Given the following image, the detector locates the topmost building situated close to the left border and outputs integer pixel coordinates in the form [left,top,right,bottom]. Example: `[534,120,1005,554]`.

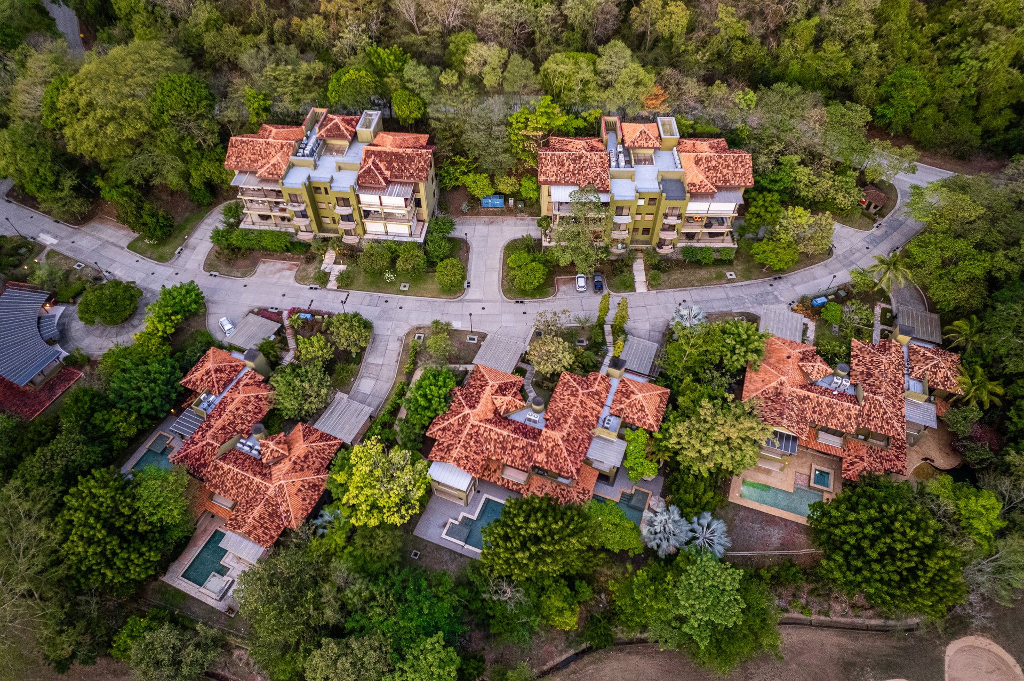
[0,280,84,409]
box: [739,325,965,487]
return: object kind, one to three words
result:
house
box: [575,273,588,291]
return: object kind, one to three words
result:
vehicle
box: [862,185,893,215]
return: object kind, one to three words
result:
shed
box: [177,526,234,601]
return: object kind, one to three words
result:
swimming pool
